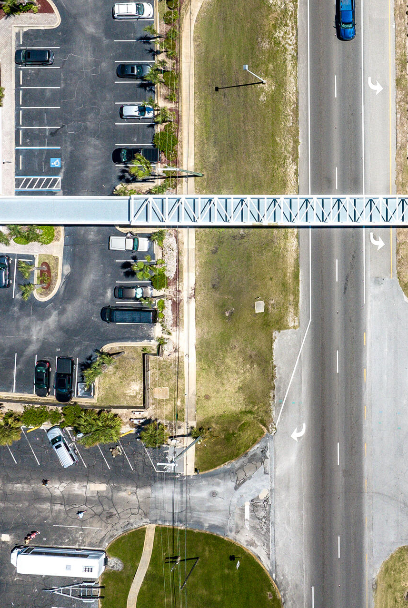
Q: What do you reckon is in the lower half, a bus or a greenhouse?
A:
bus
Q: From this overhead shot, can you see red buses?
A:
No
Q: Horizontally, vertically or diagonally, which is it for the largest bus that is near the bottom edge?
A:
horizontally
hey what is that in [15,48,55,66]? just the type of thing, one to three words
car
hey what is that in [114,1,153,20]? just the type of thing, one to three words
car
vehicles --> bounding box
[105,305,159,324]
[337,0,357,41]
[48,424,79,468]
[15,48,55,66]
[113,146,160,165]
[114,1,153,20]
[53,357,74,402]
[0,256,13,288]
[109,233,151,252]
[34,360,52,396]
[117,63,155,79]
[115,284,155,299]
[14,544,107,578]
[121,102,155,120]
